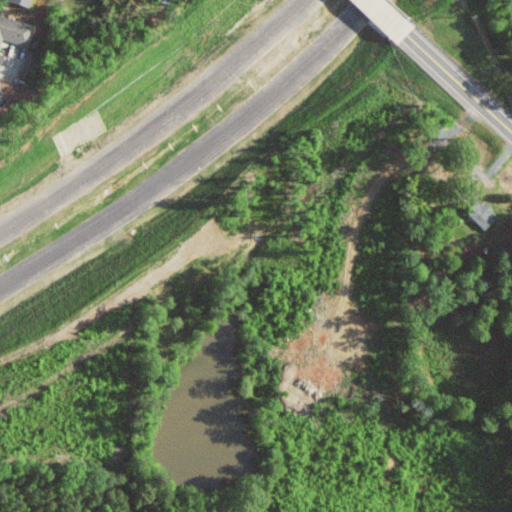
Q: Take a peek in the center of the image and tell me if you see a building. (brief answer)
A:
No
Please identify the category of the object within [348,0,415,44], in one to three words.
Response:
bridge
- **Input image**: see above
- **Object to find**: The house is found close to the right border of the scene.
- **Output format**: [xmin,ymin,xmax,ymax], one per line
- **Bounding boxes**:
[466,203,494,232]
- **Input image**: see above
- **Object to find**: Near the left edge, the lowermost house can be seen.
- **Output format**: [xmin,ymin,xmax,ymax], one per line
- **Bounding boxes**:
[0,12,38,50]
